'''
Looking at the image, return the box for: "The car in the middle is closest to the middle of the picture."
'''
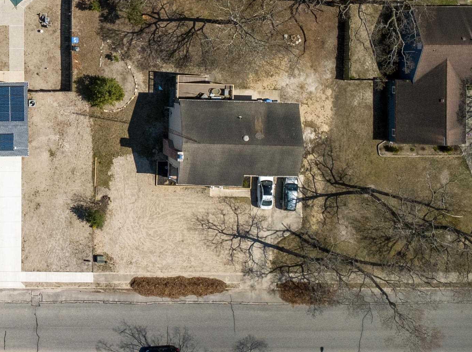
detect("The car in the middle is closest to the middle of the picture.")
[257,177,278,210]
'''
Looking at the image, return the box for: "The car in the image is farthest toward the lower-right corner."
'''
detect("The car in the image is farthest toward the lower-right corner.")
[282,175,302,210]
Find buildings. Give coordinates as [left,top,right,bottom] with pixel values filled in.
[0,81,29,157]
[162,101,303,186]
[386,5,472,144]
